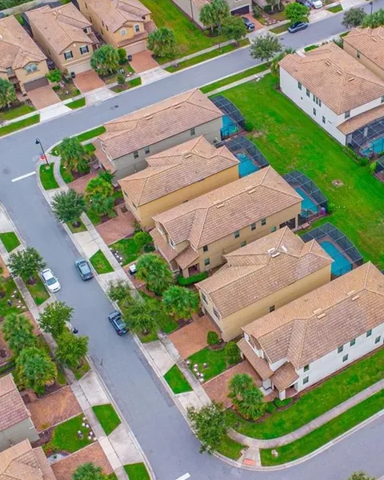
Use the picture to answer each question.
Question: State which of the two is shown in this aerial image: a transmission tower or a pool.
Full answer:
The one in the frame is a pool.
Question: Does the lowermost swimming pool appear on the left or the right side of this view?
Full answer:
The lowermost swimming pool sits on the right side.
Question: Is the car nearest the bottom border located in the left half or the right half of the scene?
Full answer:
The car nearest the bottom border sits on the left side.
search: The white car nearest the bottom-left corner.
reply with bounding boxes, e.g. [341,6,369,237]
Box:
[41,267,64,294]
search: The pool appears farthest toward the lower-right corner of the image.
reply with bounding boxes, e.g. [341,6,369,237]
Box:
[328,251,352,277]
